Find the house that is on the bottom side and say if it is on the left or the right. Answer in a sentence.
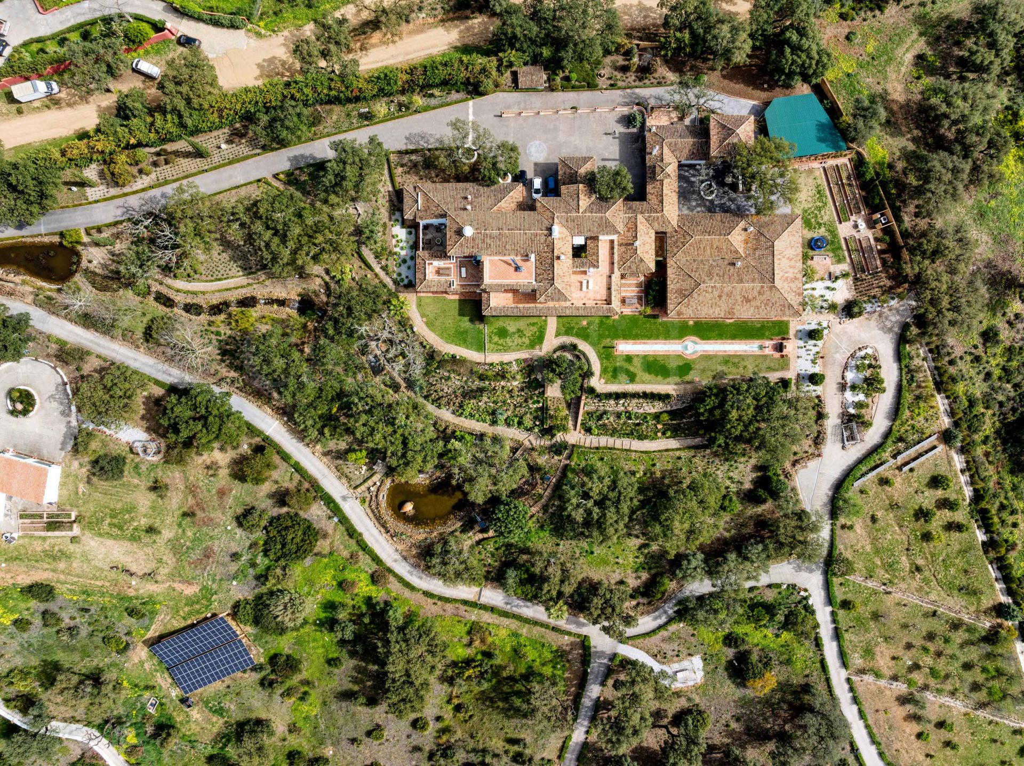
It is on the left.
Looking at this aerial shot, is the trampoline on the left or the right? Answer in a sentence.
You can find the trampoline on the right side of the picture.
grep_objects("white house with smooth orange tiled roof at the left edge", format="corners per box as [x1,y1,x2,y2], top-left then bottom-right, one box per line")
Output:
[0,450,60,521]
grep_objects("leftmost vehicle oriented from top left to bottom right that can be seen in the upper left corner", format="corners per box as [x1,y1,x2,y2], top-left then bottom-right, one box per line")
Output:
[128,54,159,79]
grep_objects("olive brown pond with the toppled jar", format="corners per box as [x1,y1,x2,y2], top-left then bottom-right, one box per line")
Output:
[387,481,465,523]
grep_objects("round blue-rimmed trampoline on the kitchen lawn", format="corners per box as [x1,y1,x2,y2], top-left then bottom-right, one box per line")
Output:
[811,231,834,251]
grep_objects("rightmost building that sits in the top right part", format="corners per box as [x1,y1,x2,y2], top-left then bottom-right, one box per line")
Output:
[760,93,847,158]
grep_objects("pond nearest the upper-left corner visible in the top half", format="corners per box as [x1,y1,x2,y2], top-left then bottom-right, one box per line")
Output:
[0,242,82,283]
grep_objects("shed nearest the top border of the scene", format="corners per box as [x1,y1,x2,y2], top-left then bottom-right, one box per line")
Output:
[518,65,543,92]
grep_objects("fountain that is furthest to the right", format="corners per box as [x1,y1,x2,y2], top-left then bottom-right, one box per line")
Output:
[614,336,789,359]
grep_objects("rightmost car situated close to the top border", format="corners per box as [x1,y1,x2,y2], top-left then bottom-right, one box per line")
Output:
[173,30,203,49]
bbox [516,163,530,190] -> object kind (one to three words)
car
